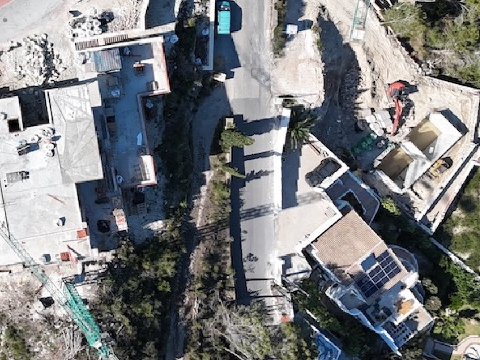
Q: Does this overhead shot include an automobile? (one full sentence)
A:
Yes, you can see an automobile in this photo.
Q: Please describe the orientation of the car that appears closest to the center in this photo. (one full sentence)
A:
In this picture, the car that appears closest to the center lies on a diagonal.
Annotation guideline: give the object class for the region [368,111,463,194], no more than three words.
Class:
house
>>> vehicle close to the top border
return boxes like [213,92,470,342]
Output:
[214,0,230,40]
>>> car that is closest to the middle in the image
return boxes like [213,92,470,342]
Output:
[302,158,338,185]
